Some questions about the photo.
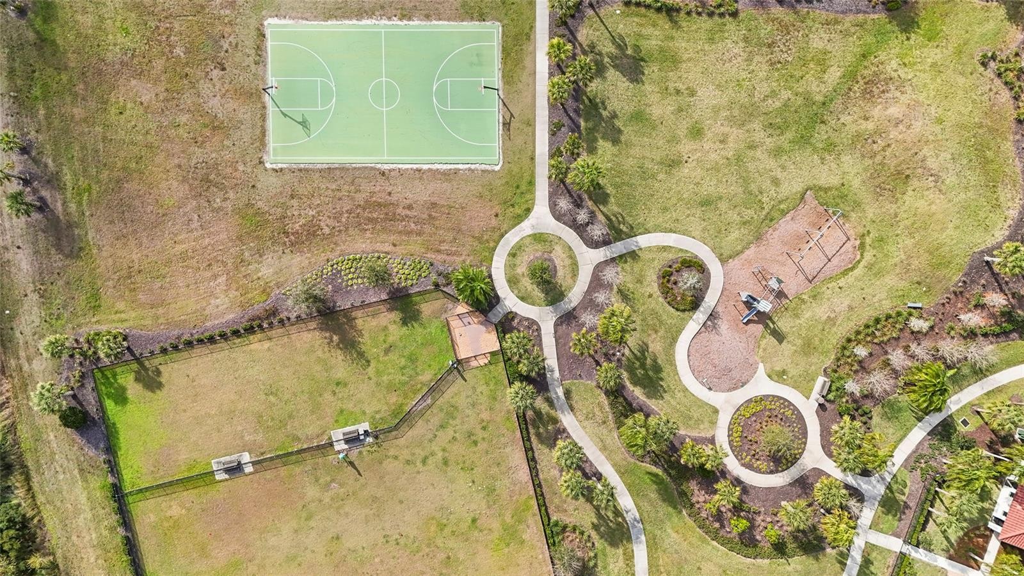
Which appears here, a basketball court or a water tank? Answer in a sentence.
Of the two, only a basketball court appears.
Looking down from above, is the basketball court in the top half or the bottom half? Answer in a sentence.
It is in the top half that the basketball court appears.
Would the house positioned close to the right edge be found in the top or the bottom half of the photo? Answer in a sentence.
The bottom half of the photo is where the house positioned close to the right edge is.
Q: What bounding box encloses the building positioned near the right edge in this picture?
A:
[988,467,1024,548]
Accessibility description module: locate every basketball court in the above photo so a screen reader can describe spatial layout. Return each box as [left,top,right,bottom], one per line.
[264,20,503,169]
